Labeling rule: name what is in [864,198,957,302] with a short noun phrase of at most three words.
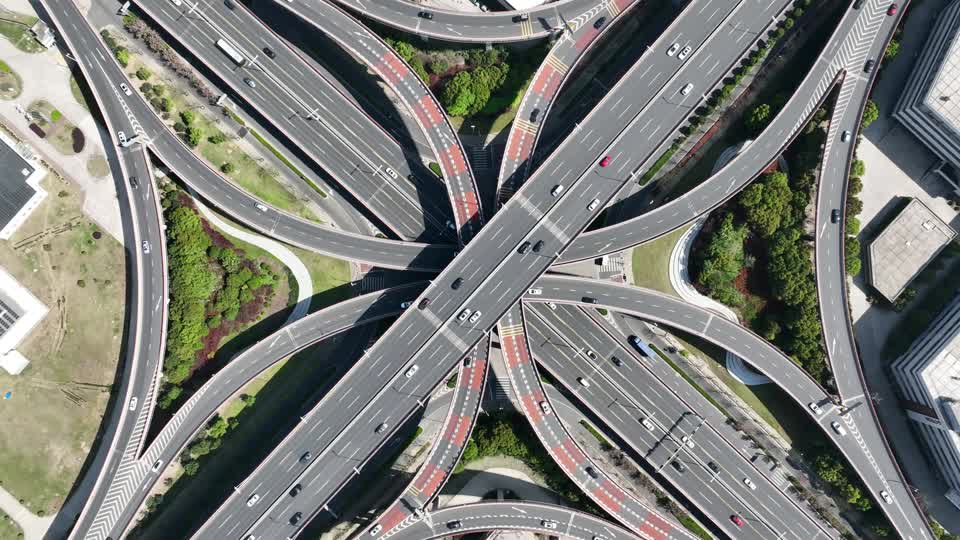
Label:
building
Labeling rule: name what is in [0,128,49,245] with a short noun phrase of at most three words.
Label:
building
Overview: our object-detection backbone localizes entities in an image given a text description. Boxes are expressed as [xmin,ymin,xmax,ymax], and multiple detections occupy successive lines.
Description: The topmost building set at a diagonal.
[34,18,64,50]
